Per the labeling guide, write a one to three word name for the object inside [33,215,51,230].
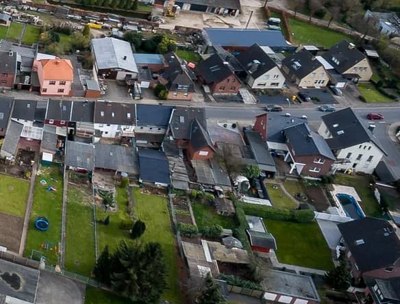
trampoline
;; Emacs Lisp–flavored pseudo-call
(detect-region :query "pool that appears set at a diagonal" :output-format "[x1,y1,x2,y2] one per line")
[335,189,368,222]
